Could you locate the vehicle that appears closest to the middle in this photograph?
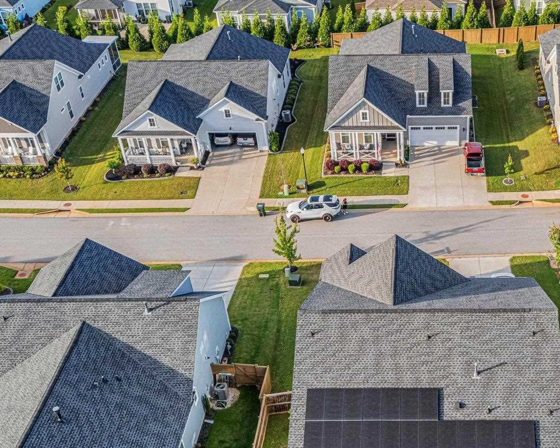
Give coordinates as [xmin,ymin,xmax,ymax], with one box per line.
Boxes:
[286,192,340,221]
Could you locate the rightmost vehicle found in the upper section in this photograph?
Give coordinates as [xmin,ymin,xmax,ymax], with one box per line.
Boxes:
[462,141,485,170]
